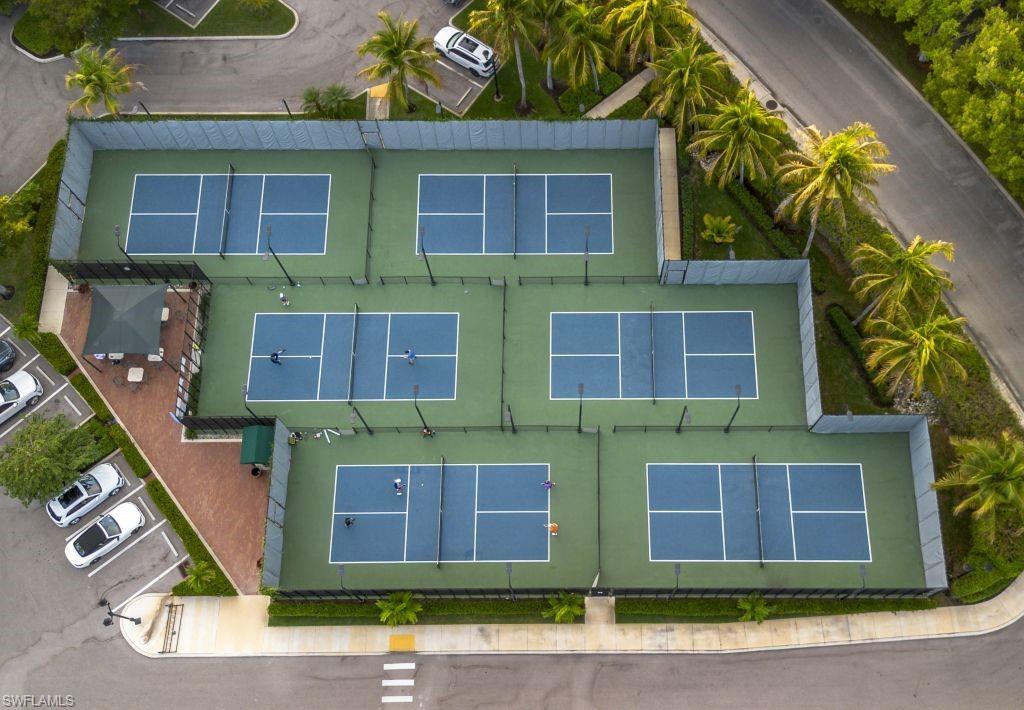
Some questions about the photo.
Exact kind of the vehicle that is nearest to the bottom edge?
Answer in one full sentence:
In the photo, the vehicle that is nearest to the bottom edge shows up as a car.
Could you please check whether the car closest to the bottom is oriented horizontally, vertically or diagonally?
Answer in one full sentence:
The car closest to the bottom has been laid out diagonally relative to the frame.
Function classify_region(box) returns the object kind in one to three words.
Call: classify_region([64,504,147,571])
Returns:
car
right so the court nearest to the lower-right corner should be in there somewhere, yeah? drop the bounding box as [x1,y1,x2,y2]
[599,431,927,598]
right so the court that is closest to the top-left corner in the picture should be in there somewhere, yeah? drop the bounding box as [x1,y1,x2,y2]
[74,150,371,284]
